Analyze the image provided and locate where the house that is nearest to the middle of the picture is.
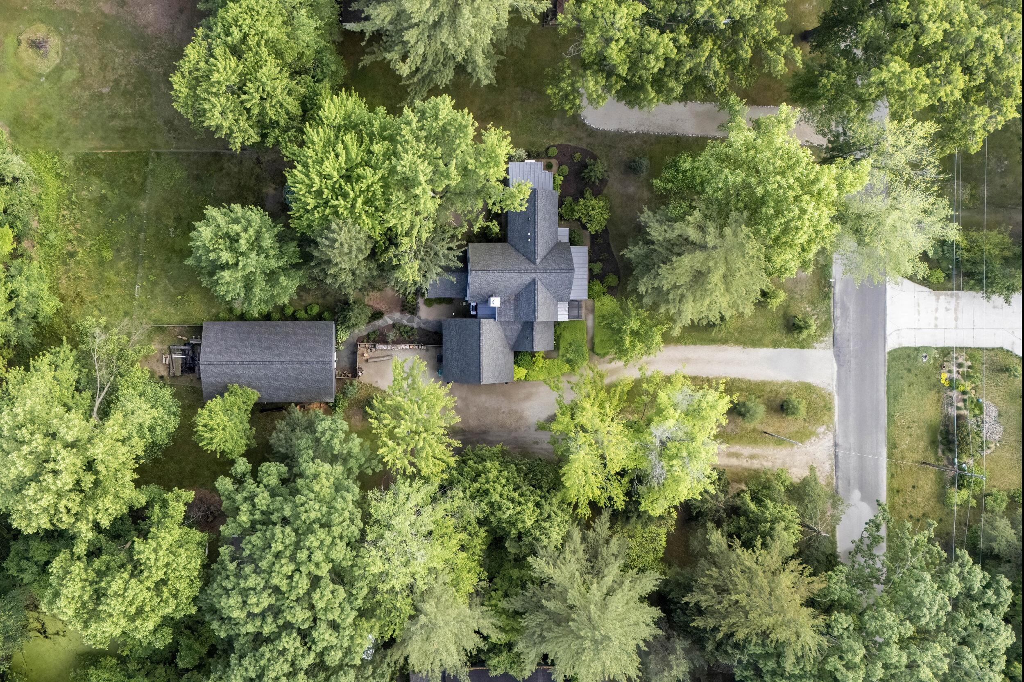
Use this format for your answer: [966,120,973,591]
[428,162,588,385]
